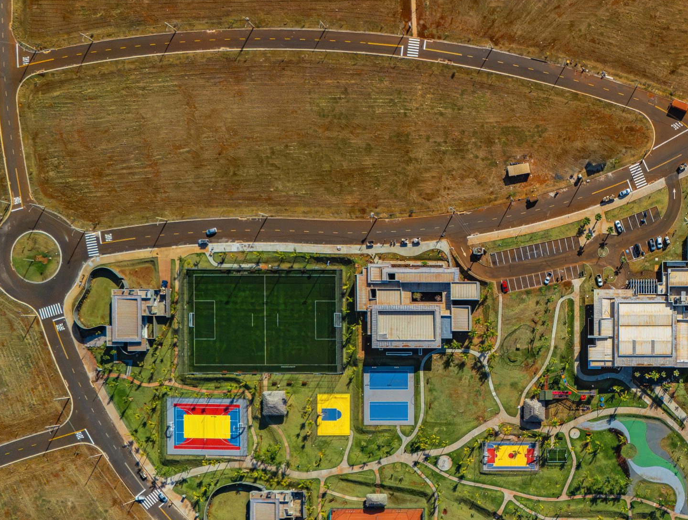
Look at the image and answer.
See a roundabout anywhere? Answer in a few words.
Yes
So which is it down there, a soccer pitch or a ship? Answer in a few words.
soccer pitch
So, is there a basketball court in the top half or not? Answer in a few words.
No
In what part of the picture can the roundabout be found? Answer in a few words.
left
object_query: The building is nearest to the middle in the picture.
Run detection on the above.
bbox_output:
[356,264,481,355]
